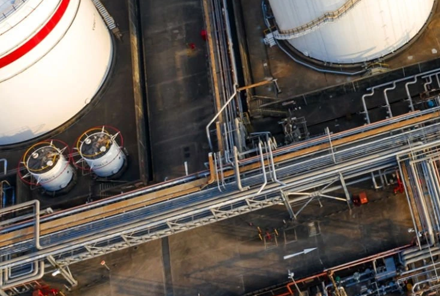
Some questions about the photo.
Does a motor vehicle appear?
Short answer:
No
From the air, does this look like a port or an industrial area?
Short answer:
industrial area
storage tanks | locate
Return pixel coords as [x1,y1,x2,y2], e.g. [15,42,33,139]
[269,0,439,67]
[74,126,131,183]
[20,139,79,197]
[0,0,125,153]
